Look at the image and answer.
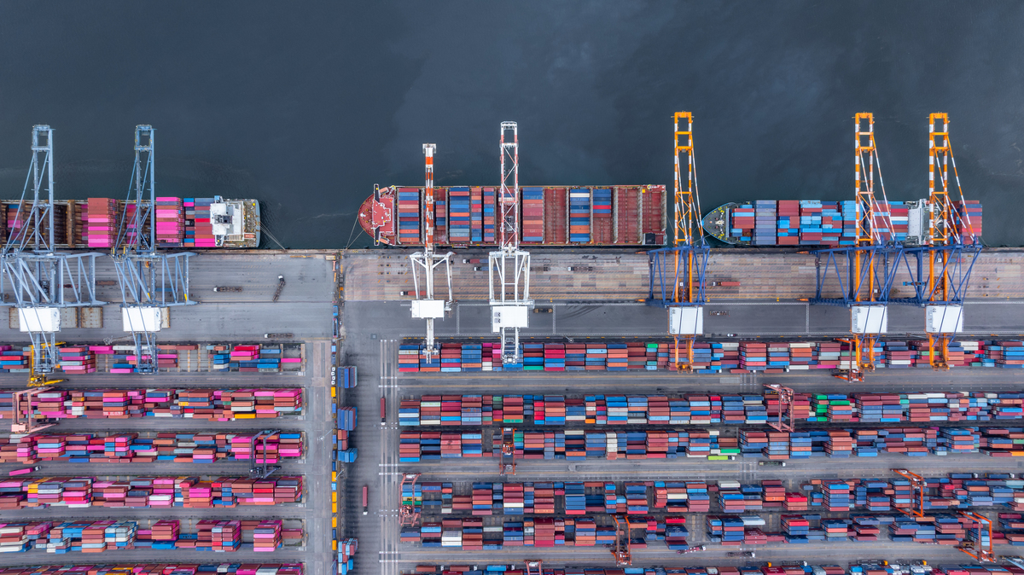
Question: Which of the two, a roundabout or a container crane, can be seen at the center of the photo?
container crane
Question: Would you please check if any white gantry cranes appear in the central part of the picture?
Yes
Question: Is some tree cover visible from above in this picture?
No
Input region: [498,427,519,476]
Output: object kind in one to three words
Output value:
crane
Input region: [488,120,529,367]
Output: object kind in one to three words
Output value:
container crane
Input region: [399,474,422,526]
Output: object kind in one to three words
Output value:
crane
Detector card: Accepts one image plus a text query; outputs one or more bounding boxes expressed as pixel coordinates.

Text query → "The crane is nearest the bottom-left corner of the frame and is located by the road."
[8,386,57,433]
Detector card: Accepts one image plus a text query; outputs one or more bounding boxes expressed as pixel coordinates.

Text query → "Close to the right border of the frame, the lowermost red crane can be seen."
[953,510,995,563]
